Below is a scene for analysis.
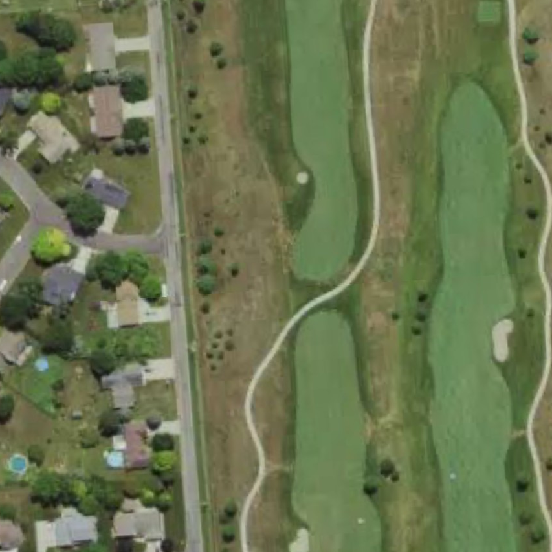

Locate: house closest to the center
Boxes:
[116,281,139,327]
